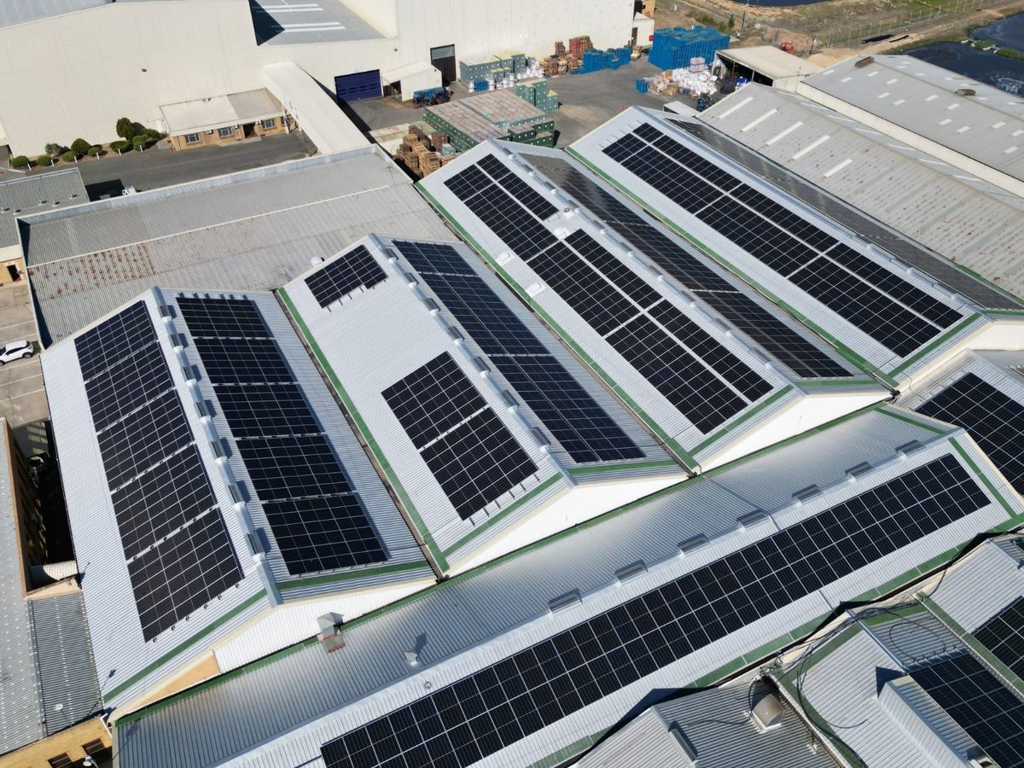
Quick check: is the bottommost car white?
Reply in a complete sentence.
Yes, the bottommost car is white.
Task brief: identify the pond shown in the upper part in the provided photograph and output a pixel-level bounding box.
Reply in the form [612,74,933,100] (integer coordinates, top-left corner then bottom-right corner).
[887,11,1024,104]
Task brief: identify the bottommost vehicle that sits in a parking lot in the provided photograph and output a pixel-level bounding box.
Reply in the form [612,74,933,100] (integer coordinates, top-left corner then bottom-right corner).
[0,335,34,363]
